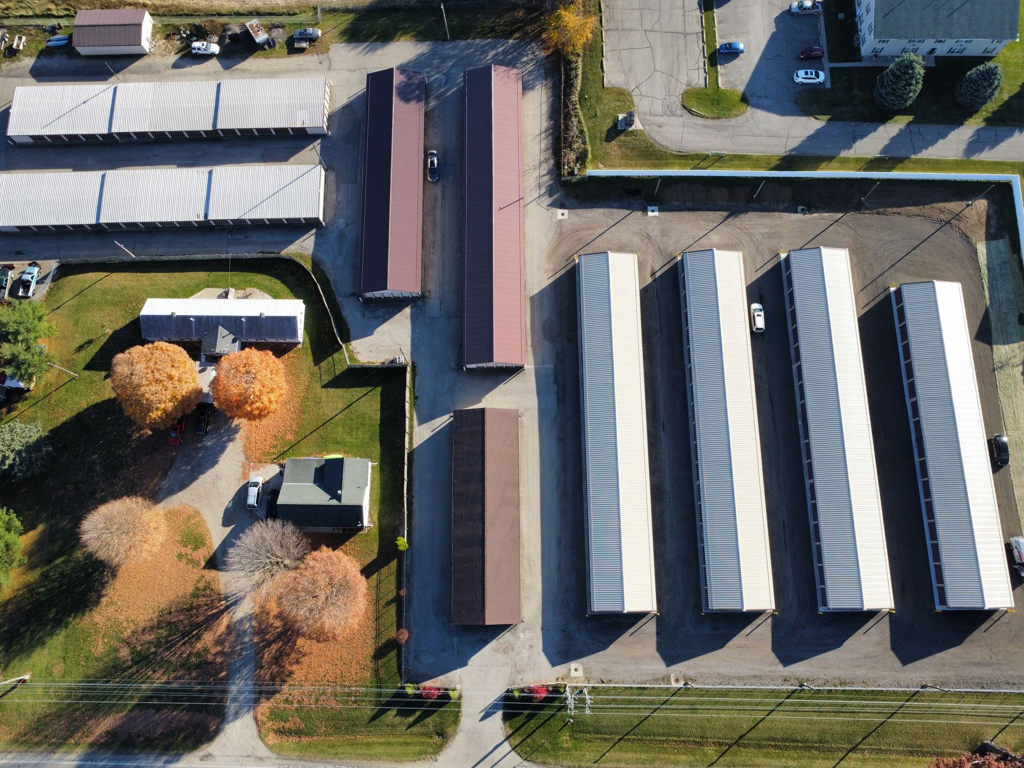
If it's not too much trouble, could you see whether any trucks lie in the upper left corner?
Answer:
Yes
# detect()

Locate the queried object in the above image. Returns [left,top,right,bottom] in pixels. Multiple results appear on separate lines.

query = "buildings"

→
[854,0,1017,56]
[0,164,325,233]
[887,281,1015,608]
[450,407,523,625]
[674,248,775,611]
[7,77,330,143]
[571,251,660,613]
[359,66,425,296]
[138,296,305,353]
[778,245,895,610]
[274,457,378,536]
[462,64,526,367]
[70,8,153,56]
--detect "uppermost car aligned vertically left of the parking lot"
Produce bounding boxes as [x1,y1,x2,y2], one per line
[426,151,439,183]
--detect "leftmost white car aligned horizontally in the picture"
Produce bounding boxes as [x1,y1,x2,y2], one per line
[190,40,221,56]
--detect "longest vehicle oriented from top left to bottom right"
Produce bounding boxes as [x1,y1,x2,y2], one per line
[247,17,280,58]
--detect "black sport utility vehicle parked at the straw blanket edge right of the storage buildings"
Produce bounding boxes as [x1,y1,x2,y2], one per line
[991,434,1012,466]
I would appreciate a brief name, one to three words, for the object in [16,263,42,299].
truck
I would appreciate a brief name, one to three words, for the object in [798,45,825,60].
car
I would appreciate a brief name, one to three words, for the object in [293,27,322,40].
vehicle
